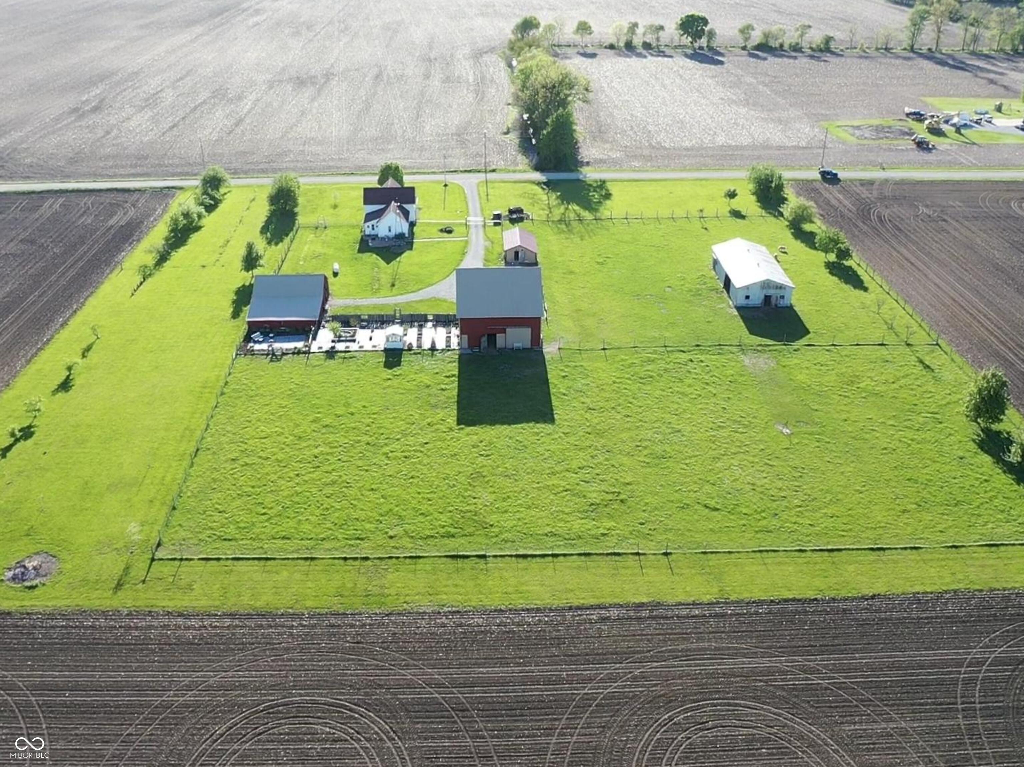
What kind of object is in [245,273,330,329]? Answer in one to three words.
shed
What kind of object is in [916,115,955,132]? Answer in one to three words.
work vehicle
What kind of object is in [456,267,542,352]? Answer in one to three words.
barn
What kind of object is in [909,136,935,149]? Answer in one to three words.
vehicle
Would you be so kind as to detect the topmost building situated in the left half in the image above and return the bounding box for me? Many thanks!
[361,176,419,237]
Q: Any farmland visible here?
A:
Yes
